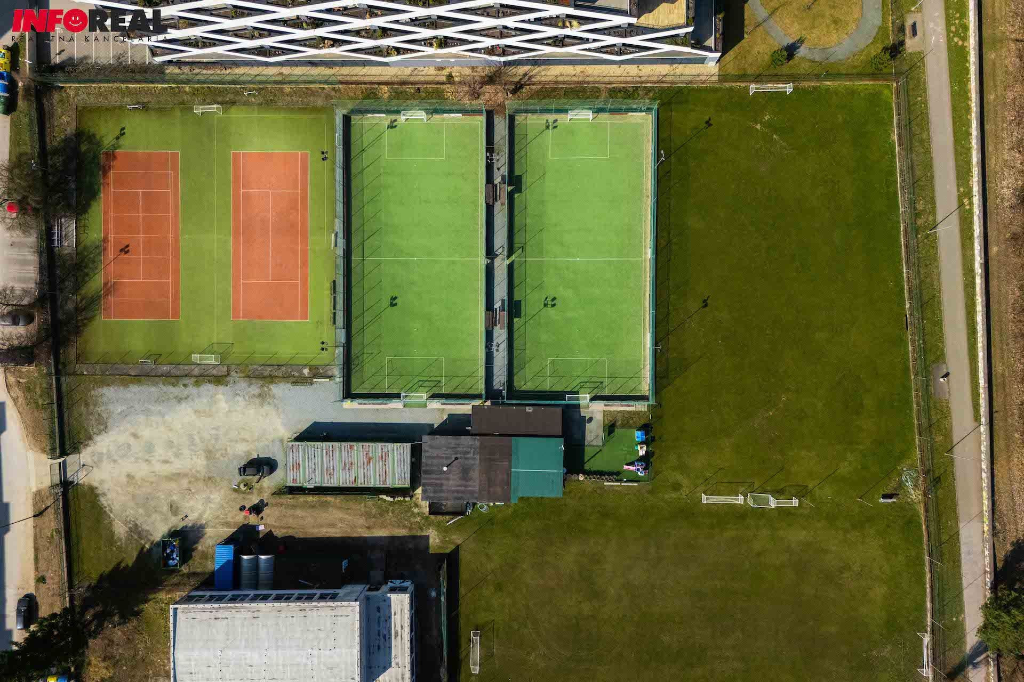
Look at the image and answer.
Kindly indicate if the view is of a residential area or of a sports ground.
sports ground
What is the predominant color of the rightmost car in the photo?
black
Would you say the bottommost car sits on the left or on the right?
left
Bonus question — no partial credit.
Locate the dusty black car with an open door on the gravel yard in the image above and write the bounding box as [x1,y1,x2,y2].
[239,464,271,485]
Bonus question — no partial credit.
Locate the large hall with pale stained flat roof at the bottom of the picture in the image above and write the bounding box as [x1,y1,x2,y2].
[171,574,416,682]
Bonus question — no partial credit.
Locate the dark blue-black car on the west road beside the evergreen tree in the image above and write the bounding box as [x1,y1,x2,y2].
[9,597,30,631]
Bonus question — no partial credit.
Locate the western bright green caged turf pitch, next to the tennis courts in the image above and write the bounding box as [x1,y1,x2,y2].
[345,113,482,399]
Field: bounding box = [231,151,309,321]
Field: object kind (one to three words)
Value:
tennis court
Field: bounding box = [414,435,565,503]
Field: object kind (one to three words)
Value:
building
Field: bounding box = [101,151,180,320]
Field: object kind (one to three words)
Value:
tennis court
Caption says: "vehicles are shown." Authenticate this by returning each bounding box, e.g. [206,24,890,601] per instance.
[0,309,31,325]
[9,597,30,631]
[239,464,271,485]
[5,200,32,215]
